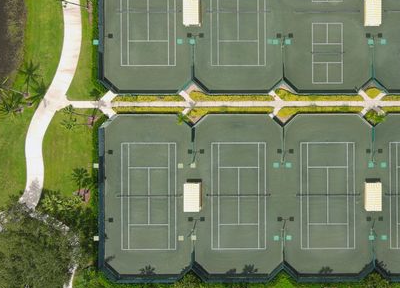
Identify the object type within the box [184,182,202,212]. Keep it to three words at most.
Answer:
building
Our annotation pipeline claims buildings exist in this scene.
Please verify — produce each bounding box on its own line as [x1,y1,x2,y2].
[184,182,202,212]
[364,181,381,211]
[365,0,381,27]
[184,0,201,26]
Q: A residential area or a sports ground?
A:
sports ground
